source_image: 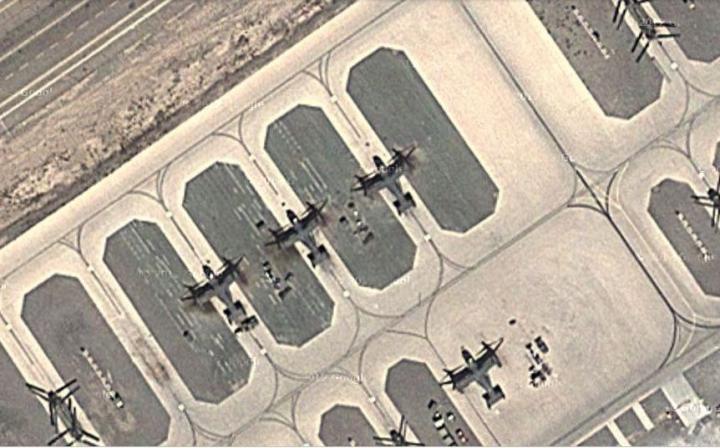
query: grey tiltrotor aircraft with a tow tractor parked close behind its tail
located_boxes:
[178,257,246,324]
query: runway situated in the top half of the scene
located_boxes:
[0,0,174,122]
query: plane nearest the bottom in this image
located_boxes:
[438,340,506,408]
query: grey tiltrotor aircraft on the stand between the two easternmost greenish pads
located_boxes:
[348,149,417,215]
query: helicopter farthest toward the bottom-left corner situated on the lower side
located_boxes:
[28,387,101,448]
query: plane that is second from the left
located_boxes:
[262,202,331,268]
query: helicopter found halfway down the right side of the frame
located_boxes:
[693,191,720,233]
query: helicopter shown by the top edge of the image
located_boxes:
[618,0,681,61]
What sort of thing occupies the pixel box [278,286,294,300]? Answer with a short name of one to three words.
work vehicle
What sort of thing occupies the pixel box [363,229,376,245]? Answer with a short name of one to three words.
vehicle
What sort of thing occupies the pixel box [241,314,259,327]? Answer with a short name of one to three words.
vehicle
